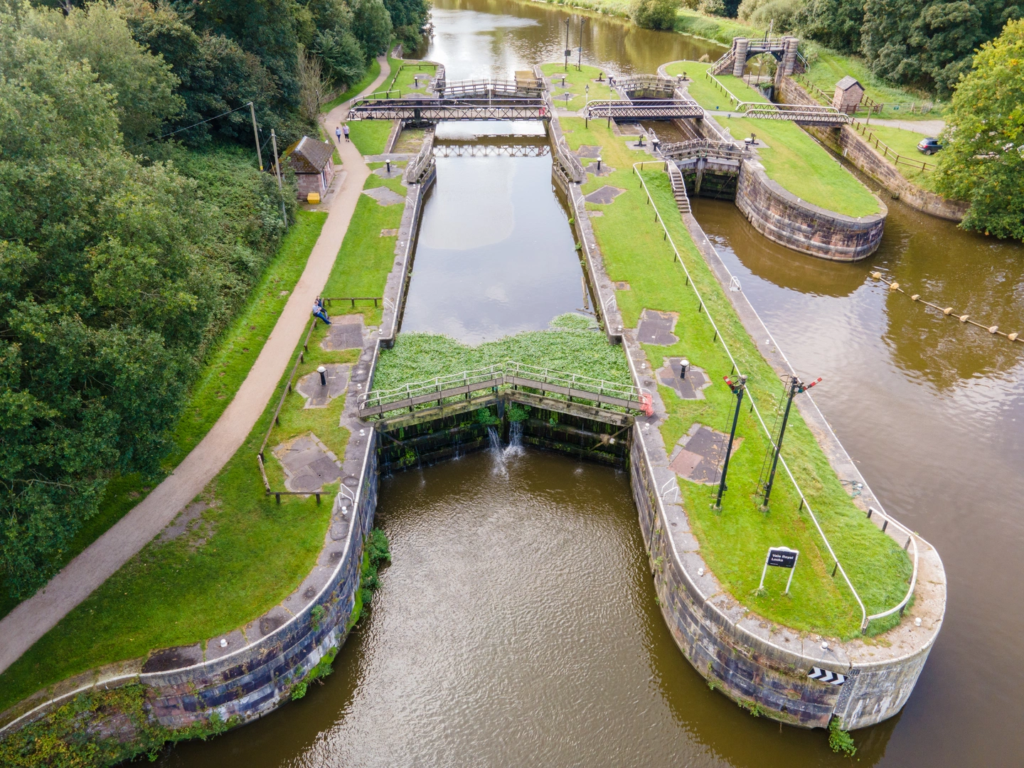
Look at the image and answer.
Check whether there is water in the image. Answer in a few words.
Yes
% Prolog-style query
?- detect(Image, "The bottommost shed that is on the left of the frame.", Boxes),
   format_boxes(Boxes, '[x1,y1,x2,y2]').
[268,137,336,203]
